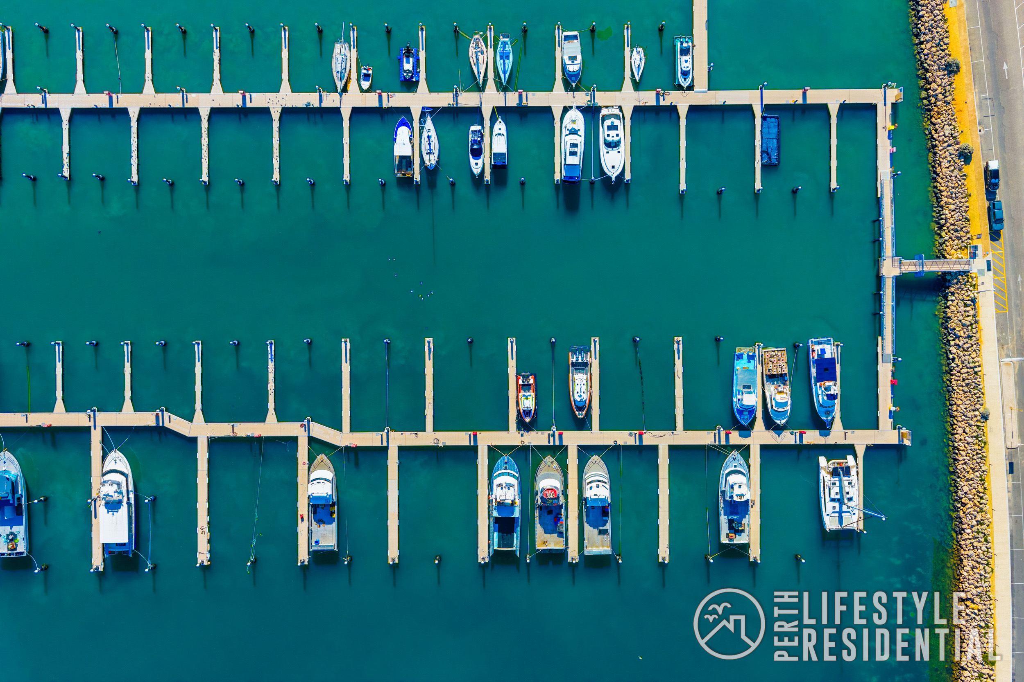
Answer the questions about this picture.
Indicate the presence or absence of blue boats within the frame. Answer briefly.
Yes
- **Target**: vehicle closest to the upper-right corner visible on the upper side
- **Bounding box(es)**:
[986,158,1004,191]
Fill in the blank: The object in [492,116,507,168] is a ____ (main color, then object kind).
white boat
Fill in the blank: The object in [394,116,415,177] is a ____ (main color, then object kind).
white boat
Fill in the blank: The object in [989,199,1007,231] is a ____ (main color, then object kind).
blue vehicle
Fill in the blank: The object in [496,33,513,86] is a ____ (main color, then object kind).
blue boat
